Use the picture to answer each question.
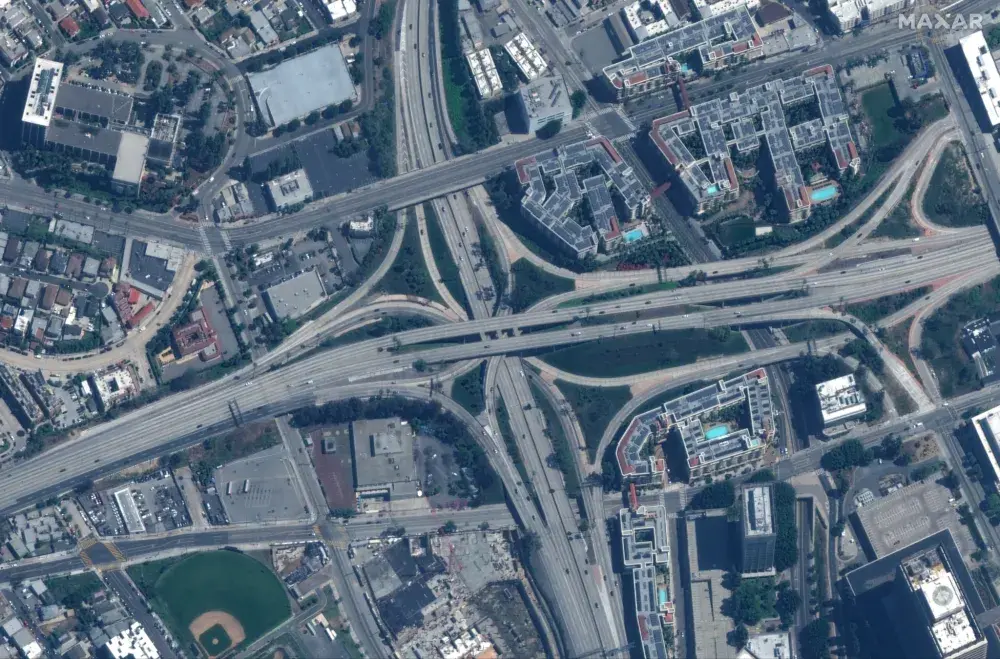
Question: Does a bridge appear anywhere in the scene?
Yes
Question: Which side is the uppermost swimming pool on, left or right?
right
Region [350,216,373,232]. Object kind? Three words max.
house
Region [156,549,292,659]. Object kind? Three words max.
baseball field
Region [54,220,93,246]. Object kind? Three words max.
building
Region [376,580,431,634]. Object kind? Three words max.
shed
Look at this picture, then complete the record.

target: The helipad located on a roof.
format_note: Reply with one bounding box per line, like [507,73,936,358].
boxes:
[933,585,953,603]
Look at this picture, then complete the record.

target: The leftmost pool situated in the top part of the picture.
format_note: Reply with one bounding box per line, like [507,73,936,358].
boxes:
[616,219,650,248]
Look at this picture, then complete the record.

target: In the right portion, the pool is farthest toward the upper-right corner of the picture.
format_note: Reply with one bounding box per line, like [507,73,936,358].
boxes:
[808,180,843,205]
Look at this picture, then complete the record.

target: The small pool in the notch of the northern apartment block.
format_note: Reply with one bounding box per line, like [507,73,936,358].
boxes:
[672,57,704,78]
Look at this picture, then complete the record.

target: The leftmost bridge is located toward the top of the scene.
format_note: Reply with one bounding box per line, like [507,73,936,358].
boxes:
[392,152,495,203]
